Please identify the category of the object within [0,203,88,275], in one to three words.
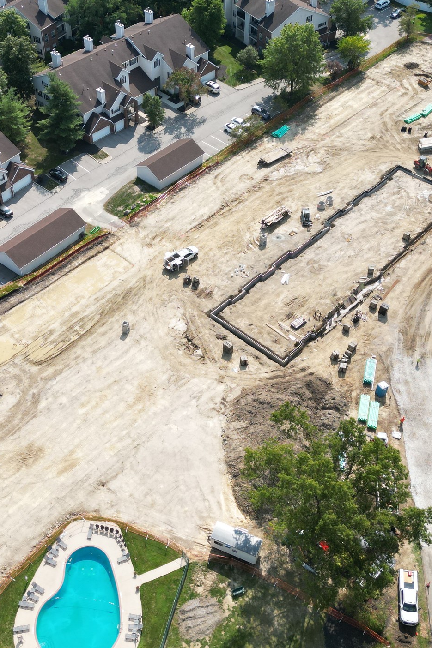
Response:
building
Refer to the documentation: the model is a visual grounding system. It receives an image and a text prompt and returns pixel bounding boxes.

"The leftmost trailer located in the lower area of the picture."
[212,519,264,563]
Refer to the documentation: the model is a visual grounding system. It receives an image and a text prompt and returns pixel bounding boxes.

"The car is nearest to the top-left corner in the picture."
[48,168,70,183]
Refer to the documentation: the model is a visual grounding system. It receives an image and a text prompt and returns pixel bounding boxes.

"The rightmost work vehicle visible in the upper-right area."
[414,157,432,176]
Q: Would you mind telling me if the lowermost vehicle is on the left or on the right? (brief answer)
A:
right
